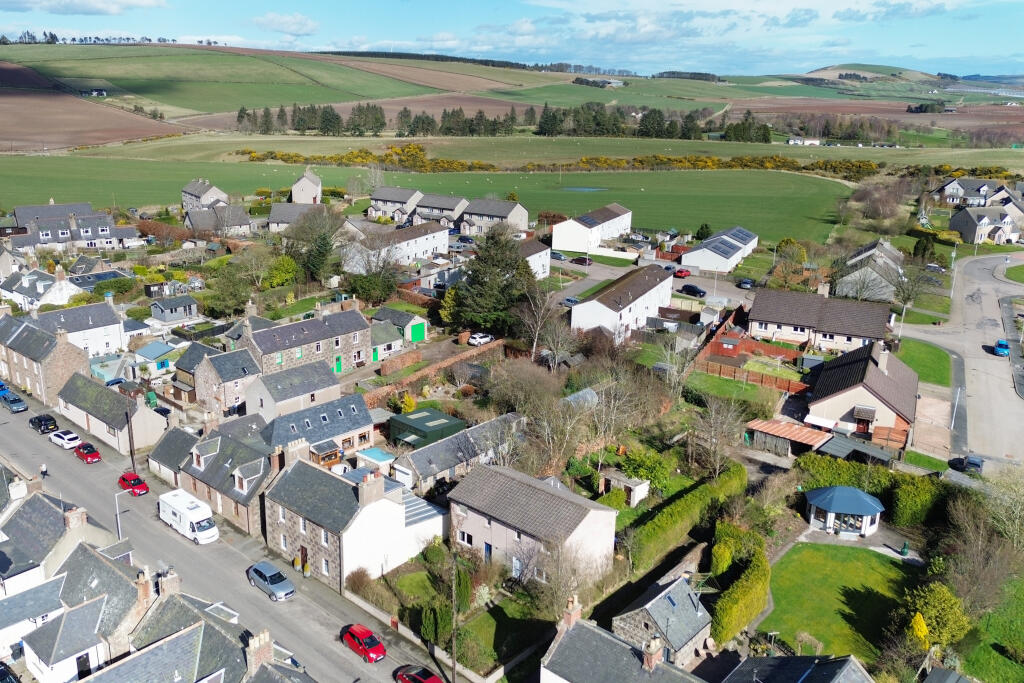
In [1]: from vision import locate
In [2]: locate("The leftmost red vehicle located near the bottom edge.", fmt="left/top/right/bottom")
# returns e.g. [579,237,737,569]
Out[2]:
[339,623,385,662]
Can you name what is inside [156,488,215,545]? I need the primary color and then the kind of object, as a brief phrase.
white camper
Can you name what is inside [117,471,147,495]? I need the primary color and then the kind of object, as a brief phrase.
red car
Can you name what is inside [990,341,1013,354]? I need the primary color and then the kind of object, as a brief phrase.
blue vehicle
